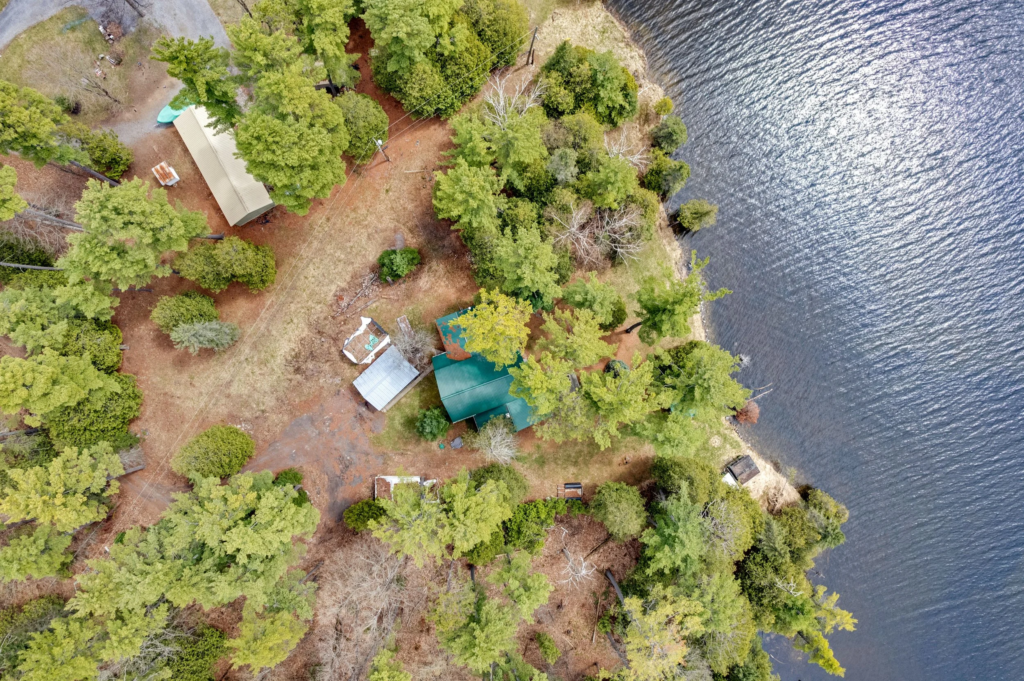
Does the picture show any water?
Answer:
Yes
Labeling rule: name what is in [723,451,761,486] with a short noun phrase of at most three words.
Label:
shed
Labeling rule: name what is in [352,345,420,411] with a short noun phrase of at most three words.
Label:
shed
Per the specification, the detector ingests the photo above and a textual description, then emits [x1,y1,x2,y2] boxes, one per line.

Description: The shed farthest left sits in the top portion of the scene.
[151,160,181,187]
